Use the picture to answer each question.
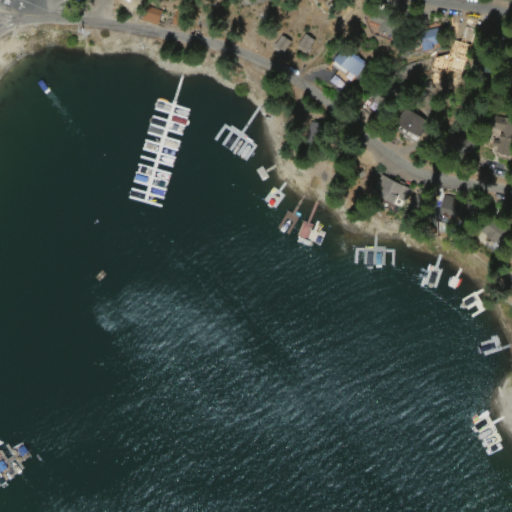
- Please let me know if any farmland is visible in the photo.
No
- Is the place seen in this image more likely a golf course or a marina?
marina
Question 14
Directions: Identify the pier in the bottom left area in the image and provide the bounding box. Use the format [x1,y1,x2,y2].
[0,444,32,481]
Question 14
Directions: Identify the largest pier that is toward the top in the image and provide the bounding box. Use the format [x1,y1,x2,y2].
[129,74,190,208]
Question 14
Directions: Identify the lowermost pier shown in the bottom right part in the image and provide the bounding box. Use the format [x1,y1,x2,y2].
[474,410,505,455]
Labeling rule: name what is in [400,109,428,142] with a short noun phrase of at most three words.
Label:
house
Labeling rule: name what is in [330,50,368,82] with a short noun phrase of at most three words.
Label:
house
